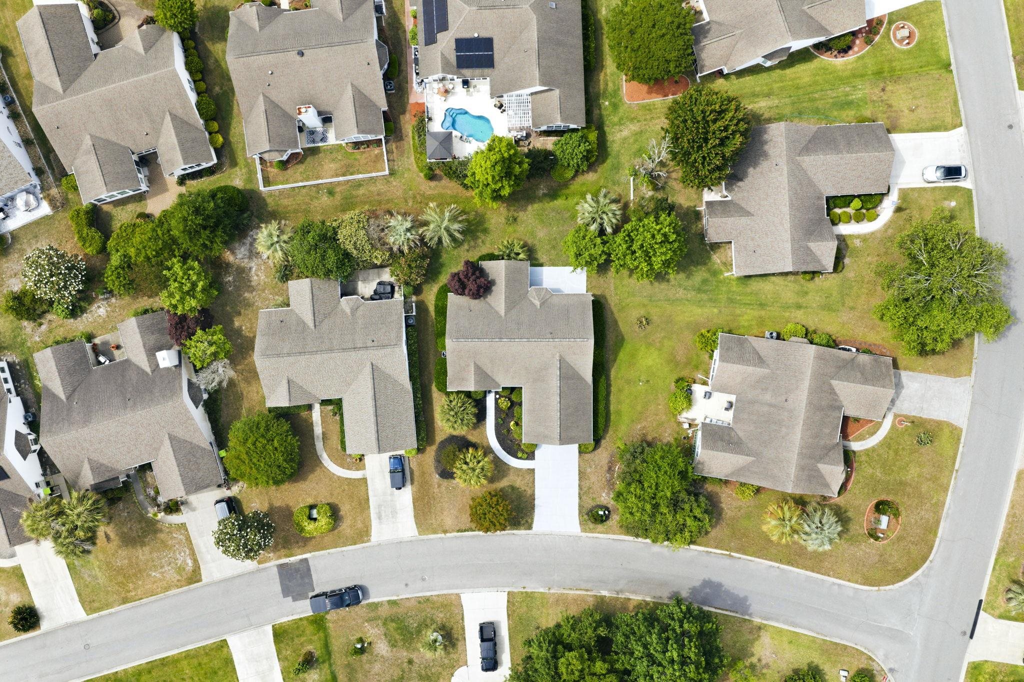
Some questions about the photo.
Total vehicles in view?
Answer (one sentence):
Looking from above, you can make out 5 vehicles.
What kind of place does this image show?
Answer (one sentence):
It's a residential area.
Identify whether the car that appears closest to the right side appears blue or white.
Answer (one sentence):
The car that appears closest to the right side looks white in the image.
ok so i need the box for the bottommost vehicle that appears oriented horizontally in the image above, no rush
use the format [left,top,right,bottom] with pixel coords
[307,585,365,613]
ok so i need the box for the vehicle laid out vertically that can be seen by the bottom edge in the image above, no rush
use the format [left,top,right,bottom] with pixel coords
[477,619,498,672]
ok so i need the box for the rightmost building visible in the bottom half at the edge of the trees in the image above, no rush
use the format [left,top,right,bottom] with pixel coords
[692,333,895,496]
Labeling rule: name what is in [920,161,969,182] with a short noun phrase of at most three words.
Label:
car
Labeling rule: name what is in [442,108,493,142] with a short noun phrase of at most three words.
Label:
swimming pool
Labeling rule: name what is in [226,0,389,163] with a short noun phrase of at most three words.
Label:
house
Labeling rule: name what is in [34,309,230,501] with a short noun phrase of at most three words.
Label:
house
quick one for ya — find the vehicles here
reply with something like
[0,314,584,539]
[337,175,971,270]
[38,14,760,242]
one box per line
[307,585,365,613]
[920,161,969,182]
[386,452,408,494]
[215,495,238,531]
[477,619,498,672]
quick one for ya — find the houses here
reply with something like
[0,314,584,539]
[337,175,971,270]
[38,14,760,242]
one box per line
[34,309,230,501]
[692,0,871,78]
[254,276,418,454]
[0,356,63,550]
[701,121,895,278]
[446,260,594,445]
[692,333,895,496]
[226,0,389,163]
[0,103,34,195]
[18,4,218,205]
